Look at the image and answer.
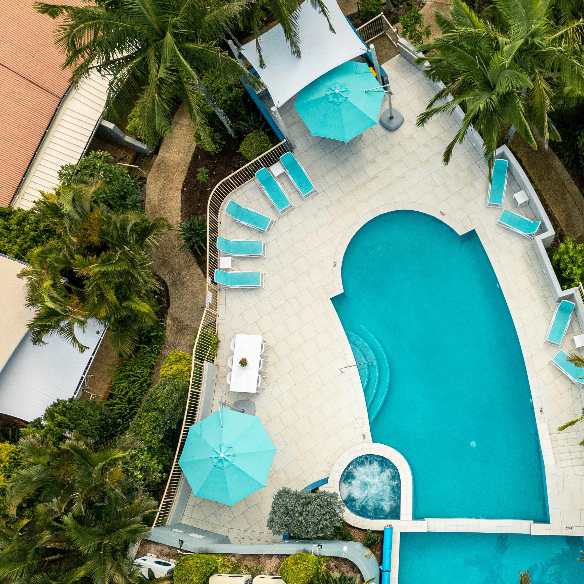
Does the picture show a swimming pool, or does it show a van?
swimming pool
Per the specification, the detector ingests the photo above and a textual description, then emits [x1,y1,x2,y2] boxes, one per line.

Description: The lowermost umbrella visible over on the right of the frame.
[297,61,405,142]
